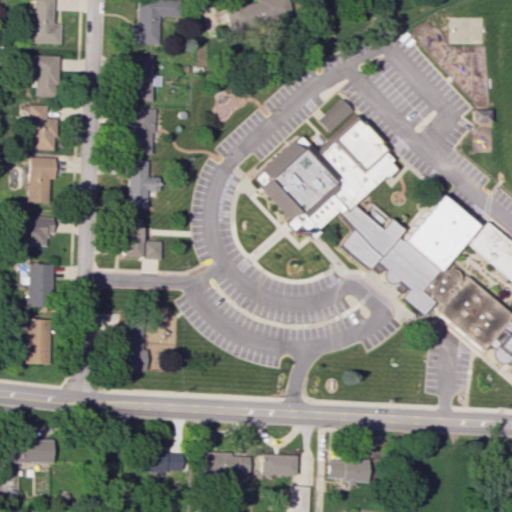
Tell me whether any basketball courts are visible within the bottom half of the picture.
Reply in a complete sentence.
No, there is no basketball court within the bottom half of the picture.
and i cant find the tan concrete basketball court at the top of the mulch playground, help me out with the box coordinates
[448,18,485,45]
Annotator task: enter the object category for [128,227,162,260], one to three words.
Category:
house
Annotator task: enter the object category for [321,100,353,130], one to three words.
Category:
building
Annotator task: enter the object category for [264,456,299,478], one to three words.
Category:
house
